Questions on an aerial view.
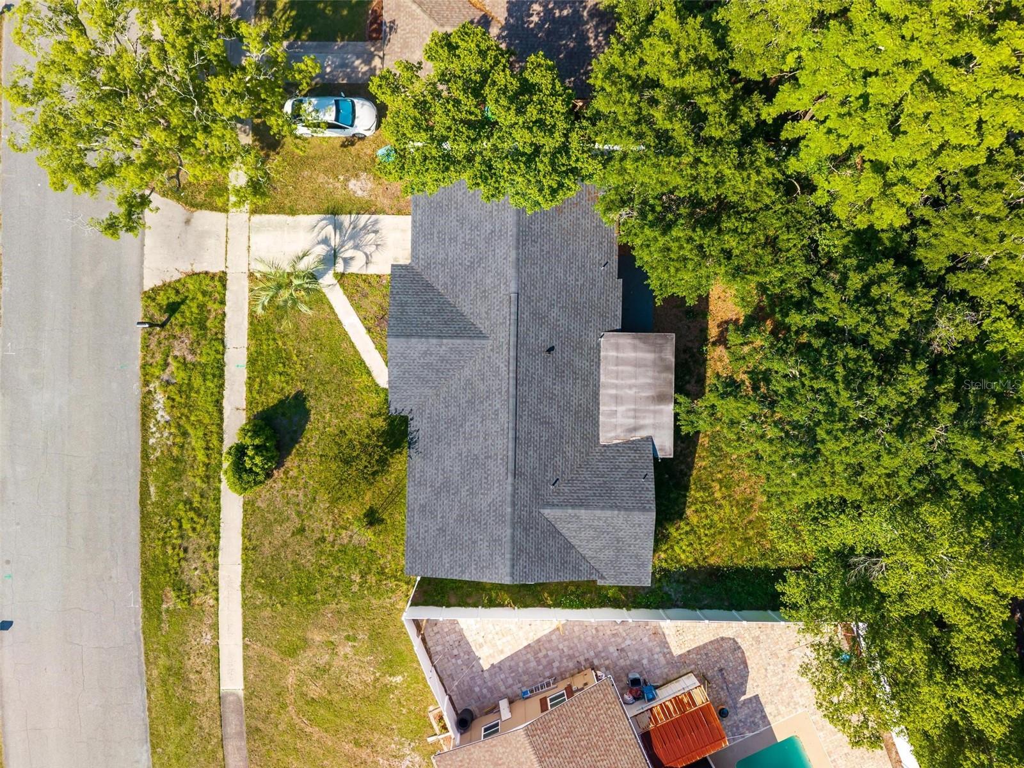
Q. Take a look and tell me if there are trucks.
No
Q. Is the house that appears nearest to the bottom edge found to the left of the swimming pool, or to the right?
to its left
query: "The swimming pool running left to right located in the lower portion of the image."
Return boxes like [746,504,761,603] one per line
[708,711,835,768]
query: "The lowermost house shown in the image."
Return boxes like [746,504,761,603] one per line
[430,665,656,768]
